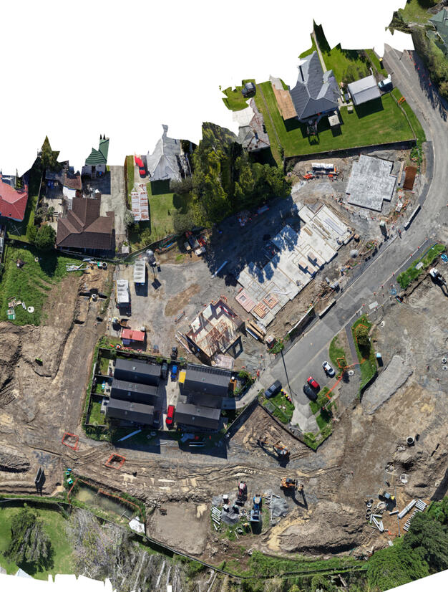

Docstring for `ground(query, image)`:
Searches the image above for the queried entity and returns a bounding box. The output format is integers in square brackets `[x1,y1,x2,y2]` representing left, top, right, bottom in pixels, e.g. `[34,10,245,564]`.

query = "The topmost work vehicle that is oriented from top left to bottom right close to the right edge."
[427,266,448,287]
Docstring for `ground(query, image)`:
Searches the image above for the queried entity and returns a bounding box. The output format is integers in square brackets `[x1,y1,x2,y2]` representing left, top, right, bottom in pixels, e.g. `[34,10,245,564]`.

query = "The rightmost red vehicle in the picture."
[306,375,319,389]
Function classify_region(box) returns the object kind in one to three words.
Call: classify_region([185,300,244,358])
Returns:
house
